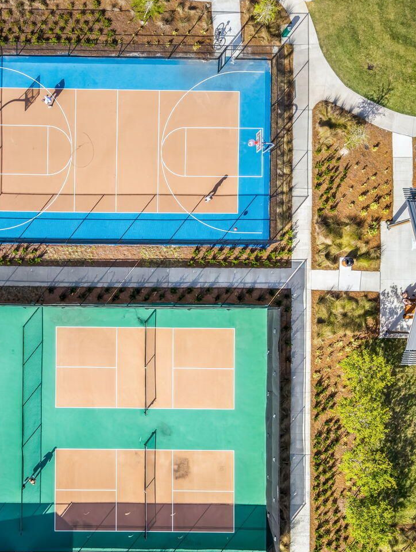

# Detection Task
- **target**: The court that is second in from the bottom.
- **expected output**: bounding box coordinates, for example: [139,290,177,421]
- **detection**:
[55,327,236,409]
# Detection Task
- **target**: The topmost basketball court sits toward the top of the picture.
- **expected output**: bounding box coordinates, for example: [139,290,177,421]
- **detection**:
[0,55,271,248]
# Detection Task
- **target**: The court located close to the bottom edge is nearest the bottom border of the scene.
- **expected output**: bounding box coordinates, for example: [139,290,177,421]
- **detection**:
[54,448,234,532]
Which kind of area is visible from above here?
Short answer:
sports ground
